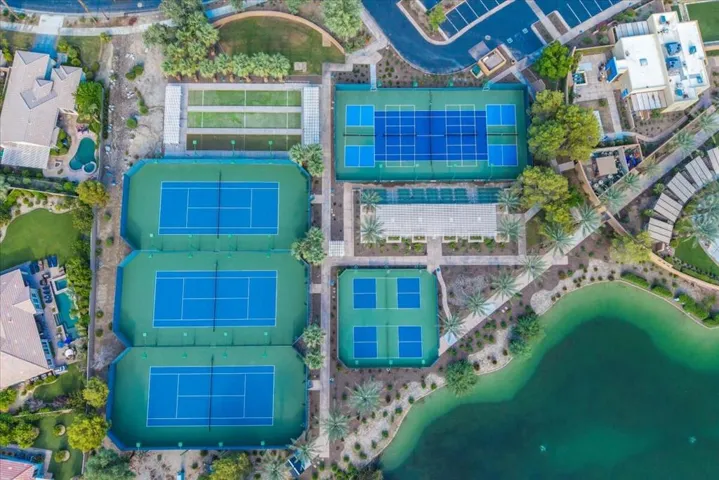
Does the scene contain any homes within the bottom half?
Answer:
Yes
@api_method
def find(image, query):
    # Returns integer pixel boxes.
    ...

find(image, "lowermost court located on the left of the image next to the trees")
[112,346,306,447]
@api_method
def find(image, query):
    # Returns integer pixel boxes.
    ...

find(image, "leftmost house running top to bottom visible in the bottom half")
[0,269,57,391]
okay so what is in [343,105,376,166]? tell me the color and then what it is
blue sports court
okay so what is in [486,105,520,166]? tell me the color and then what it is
blue sports court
